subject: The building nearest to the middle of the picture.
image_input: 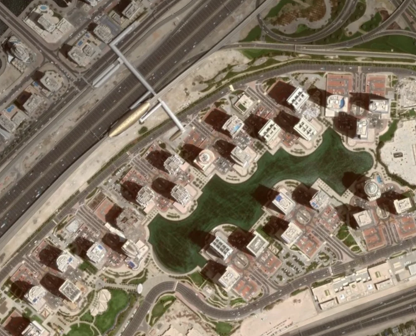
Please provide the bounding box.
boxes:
[195,148,221,175]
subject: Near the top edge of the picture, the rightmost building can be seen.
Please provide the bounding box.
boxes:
[119,0,148,23]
